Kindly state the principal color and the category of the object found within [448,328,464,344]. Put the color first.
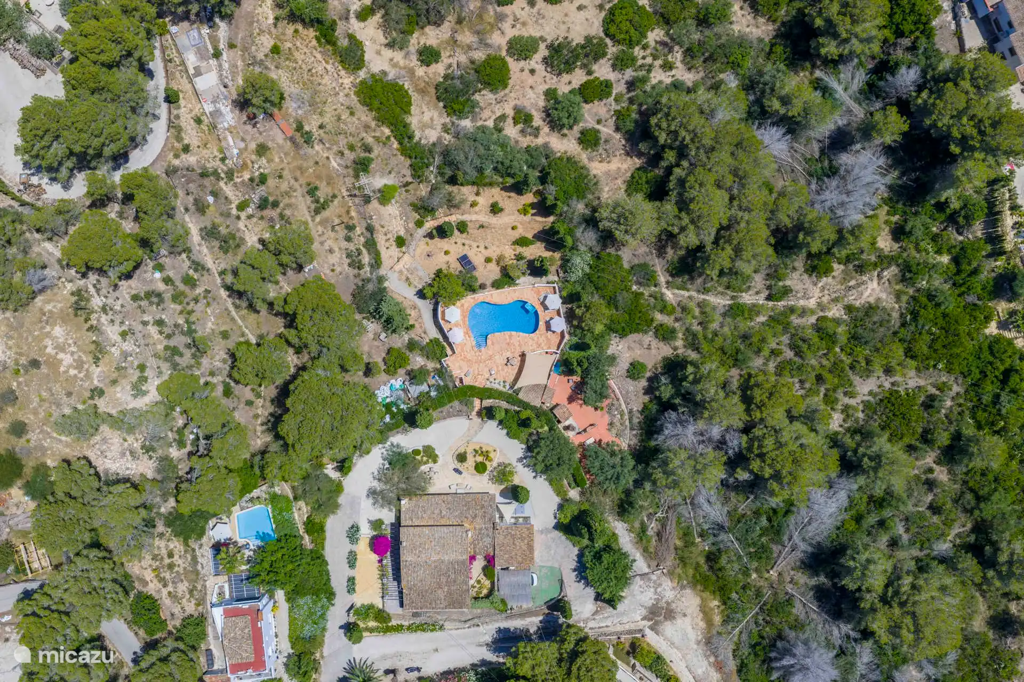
white umbrella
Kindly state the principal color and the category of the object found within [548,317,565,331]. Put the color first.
white umbrella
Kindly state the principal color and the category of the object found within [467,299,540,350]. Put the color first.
blue swimming pool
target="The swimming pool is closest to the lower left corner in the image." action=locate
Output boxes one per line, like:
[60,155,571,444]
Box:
[237,506,276,543]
